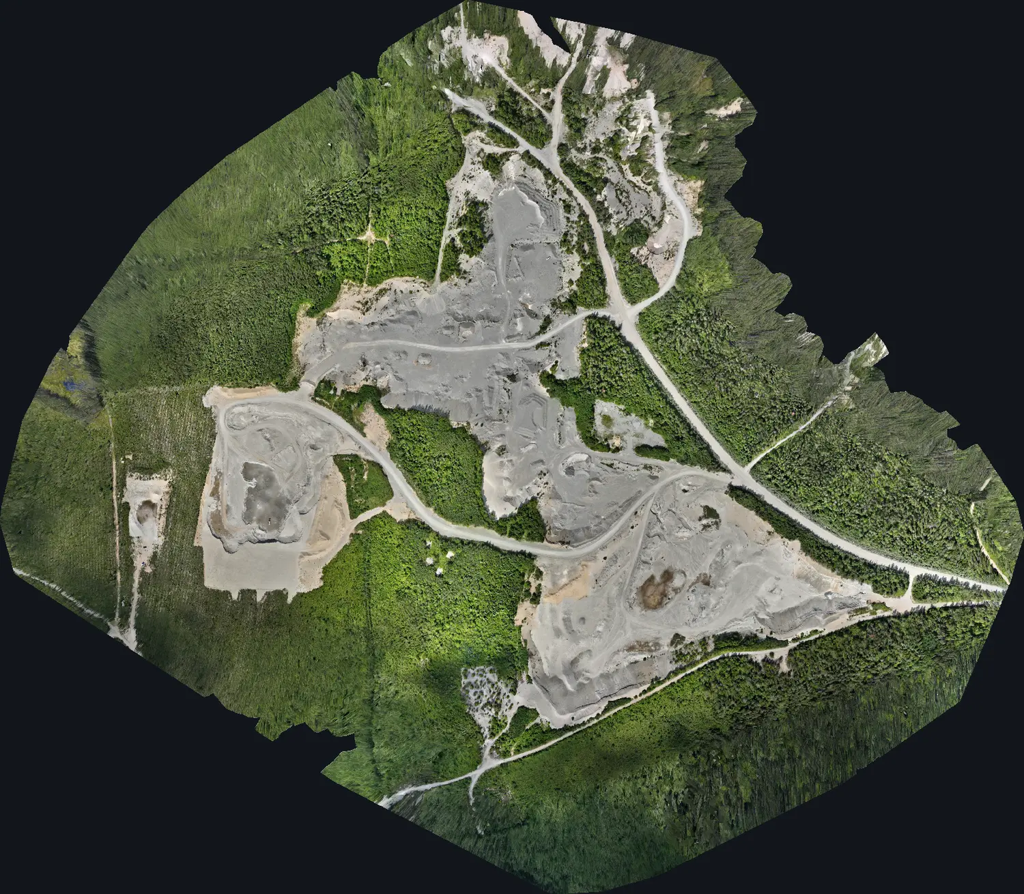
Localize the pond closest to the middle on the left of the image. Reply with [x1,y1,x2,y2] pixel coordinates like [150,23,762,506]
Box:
[243,463,292,533]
